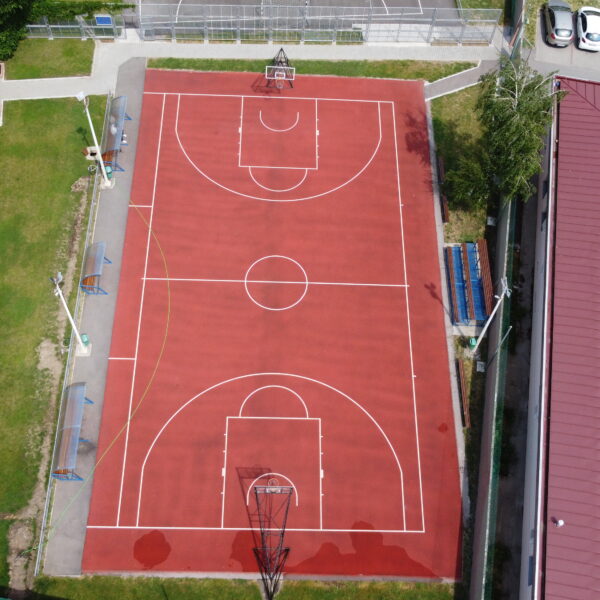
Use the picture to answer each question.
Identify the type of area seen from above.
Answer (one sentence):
The area seen from above is a sports ground.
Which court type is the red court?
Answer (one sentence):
I'd identify the red court as a basketball court.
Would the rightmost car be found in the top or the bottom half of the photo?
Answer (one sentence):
You can find the rightmost car in the top half.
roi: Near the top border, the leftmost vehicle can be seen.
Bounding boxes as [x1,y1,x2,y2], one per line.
[546,0,579,45]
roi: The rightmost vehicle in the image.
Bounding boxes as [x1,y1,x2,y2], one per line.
[578,5,600,50]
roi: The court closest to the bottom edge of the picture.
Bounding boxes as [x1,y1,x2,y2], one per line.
[81,67,473,584]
